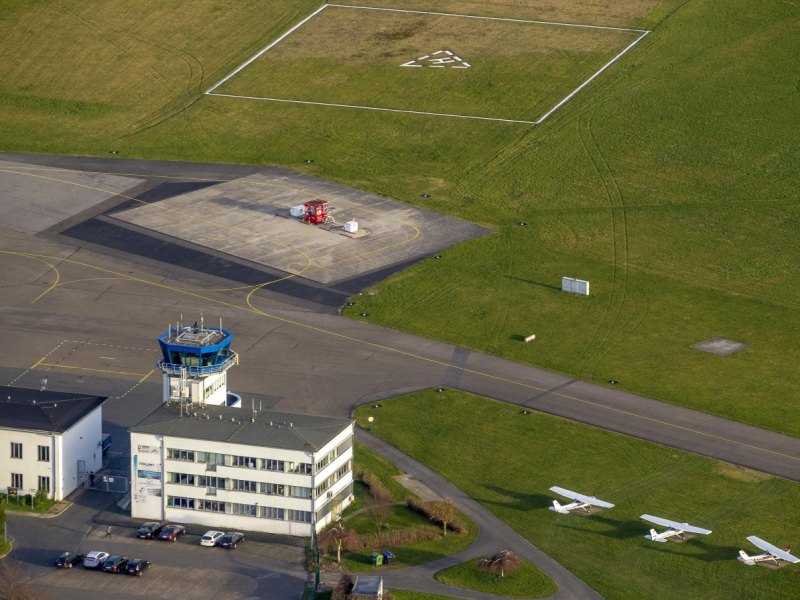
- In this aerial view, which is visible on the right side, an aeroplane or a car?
aeroplane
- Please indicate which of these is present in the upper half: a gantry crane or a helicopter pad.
helicopter pad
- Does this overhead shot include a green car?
No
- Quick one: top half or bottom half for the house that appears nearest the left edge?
bottom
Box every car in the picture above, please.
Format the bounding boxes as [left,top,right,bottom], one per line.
[127,558,155,574]
[161,524,189,541]
[84,550,112,569]
[138,520,166,539]
[222,530,250,548]
[201,528,229,546]
[57,551,86,568]
[104,553,132,572]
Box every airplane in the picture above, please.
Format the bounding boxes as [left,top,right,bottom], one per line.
[729,533,800,569]
[541,482,617,516]
[637,509,714,542]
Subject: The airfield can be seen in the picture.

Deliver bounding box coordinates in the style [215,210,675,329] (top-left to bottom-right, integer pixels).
[0,153,800,534]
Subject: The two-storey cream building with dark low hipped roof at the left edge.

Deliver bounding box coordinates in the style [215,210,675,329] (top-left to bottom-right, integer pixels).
[0,388,112,500]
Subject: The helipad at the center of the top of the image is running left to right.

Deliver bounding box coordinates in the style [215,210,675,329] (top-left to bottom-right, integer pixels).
[204,5,652,123]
